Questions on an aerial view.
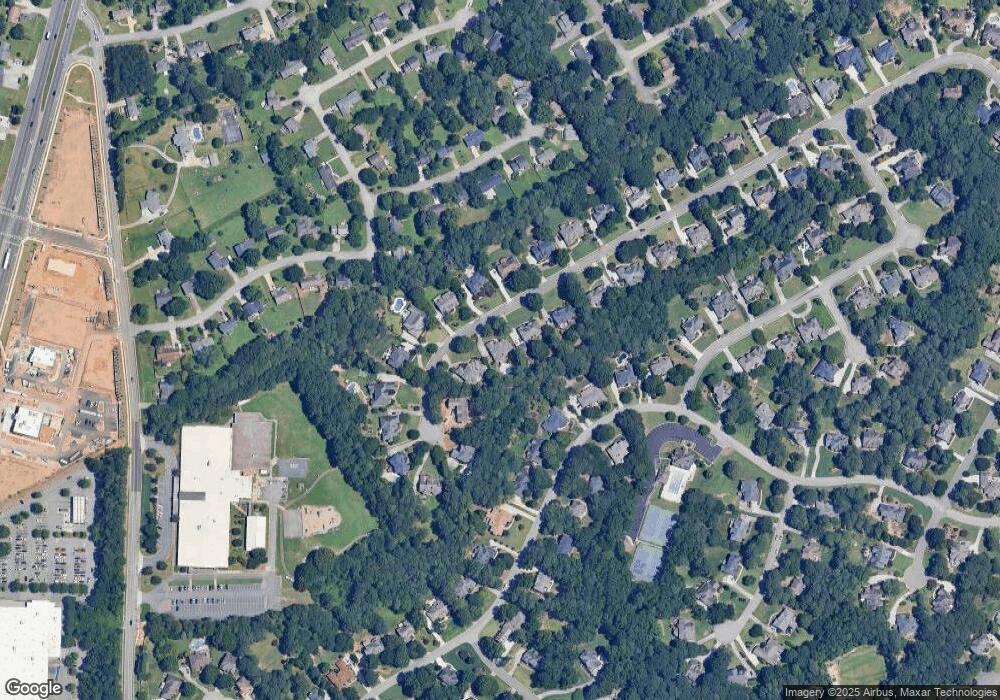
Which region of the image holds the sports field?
bottom right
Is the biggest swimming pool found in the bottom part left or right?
right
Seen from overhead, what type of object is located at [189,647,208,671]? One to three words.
house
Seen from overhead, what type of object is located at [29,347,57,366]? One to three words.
building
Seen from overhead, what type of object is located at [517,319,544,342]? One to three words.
house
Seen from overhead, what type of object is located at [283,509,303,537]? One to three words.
sports court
